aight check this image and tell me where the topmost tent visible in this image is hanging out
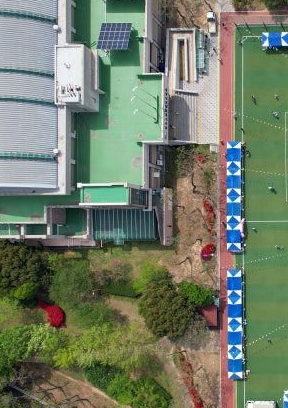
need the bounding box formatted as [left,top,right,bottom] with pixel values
[261,31,288,49]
